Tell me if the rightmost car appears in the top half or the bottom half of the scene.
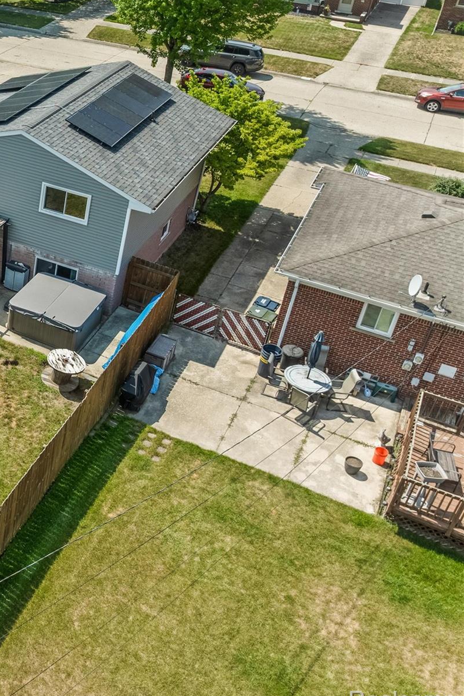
top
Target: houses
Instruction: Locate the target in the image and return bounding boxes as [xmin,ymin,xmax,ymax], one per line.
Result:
[269,167,464,395]
[436,0,464,28]
[0,59,241,314]
[262,0,381,23]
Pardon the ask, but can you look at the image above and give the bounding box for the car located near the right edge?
[417,78,464,113]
